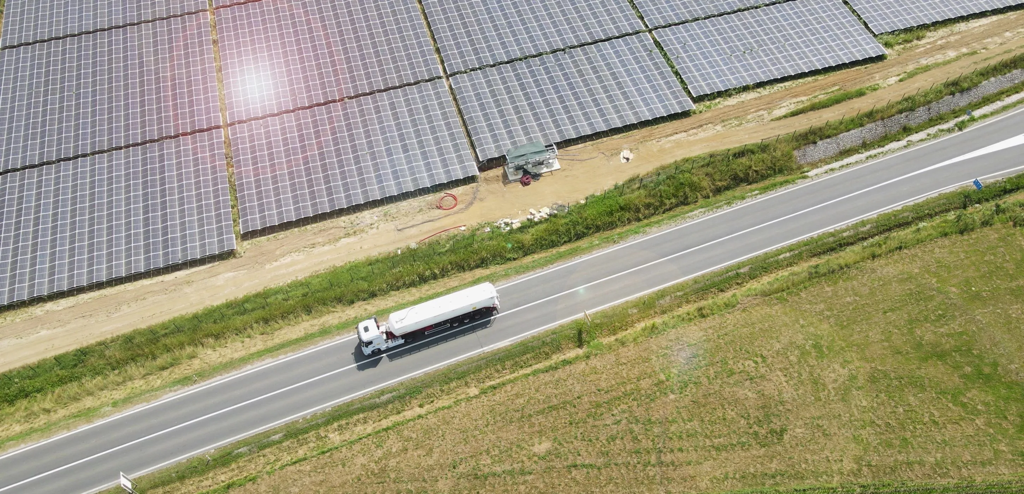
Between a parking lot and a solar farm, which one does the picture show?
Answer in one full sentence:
What you see here is a solar farm.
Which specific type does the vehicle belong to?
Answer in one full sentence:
Looking closely, the vehicle is a truck.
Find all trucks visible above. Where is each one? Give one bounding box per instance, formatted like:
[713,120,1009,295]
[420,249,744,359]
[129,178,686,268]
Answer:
[354,282,499,355]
